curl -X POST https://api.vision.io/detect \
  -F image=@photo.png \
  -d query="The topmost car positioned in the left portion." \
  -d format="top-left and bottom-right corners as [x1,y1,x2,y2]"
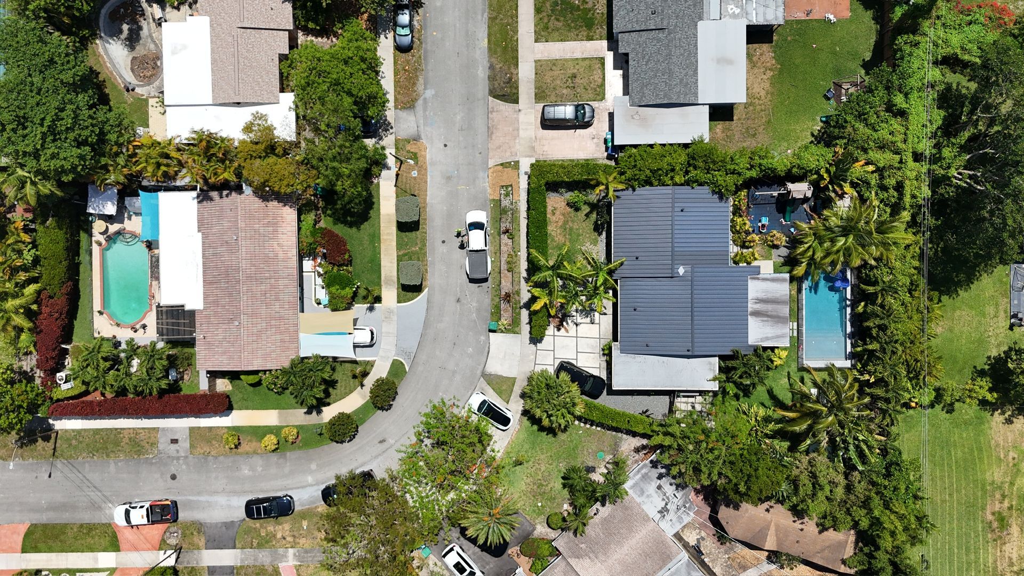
[391,0,416,54]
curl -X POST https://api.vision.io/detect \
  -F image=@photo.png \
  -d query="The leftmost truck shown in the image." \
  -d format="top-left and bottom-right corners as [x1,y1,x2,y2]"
[114,497,182,528]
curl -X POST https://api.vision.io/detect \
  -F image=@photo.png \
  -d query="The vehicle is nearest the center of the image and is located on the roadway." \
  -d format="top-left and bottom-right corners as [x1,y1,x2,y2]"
[463,212,490,280]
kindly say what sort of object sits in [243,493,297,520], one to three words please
car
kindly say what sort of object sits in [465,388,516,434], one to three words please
car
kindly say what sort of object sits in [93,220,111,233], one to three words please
umbrella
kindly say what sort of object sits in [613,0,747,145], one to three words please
house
